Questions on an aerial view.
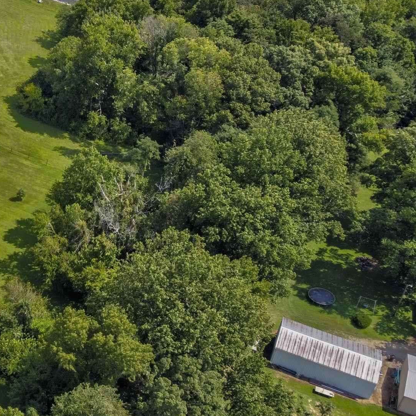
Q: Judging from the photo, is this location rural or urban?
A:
rural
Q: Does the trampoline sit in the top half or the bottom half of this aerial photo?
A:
bottom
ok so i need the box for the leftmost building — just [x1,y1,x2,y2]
[270,316,382,399]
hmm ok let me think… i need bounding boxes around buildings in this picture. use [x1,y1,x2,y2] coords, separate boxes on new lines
[270,316,382,399]
[398,352,416,416]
